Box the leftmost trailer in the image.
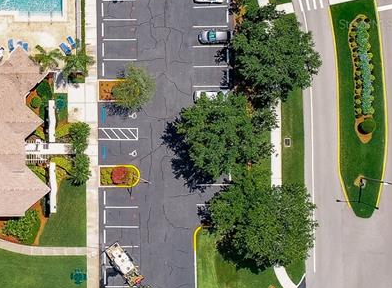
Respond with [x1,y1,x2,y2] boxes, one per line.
[107,243,145,288]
